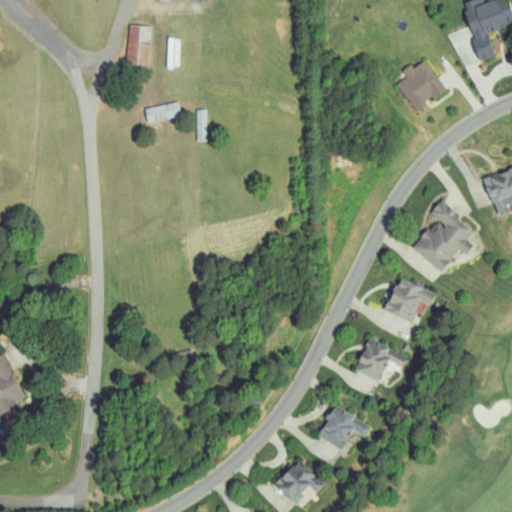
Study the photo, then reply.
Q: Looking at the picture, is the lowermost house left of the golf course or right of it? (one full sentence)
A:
The golf course has the lowermost house on its left side.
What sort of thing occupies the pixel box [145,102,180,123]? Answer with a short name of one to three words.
shed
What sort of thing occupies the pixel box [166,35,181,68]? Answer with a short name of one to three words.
shed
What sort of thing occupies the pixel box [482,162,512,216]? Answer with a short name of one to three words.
house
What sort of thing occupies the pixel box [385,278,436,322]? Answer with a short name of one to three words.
house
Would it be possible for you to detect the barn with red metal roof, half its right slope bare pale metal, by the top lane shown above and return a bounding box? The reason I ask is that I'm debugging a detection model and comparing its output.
[128,24,152,66]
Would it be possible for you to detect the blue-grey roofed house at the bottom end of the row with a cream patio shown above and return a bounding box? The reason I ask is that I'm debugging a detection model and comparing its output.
[276,462,324,504]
